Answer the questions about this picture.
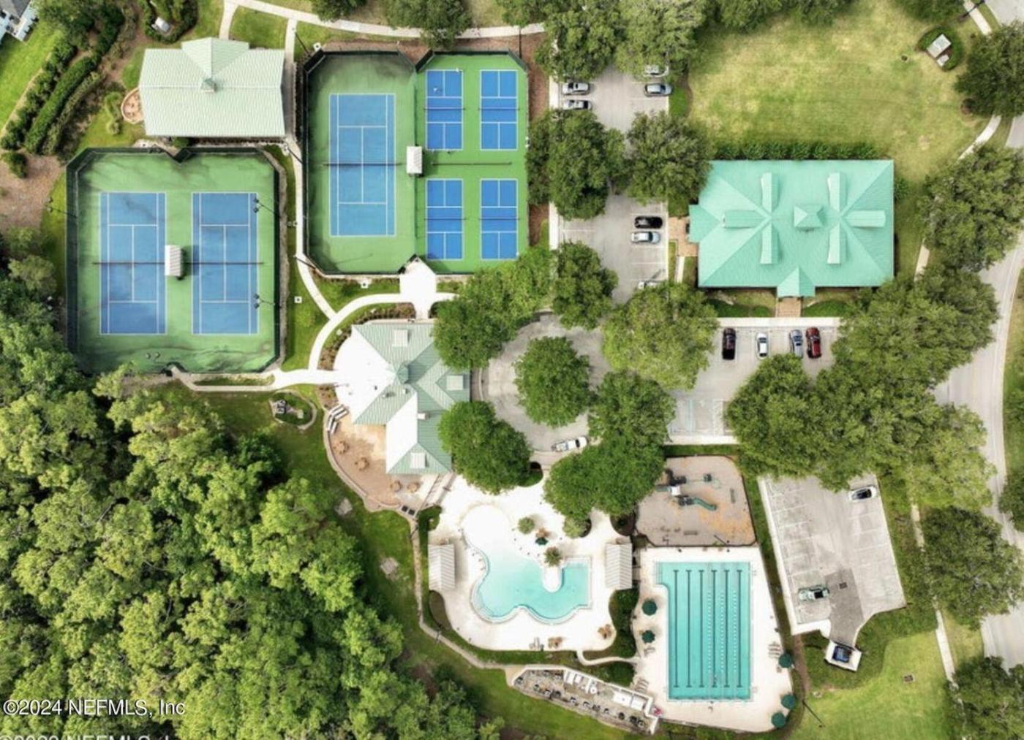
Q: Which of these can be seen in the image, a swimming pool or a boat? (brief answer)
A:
swimming pool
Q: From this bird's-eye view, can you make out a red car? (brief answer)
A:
Yes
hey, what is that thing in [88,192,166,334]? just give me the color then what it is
blue tennis court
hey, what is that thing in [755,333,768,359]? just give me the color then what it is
white vehicle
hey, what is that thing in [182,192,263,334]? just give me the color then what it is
blue tennis court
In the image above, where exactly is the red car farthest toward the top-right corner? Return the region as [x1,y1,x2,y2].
[804,328,821,358]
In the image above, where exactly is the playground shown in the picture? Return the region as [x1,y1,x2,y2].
[659,470,723,512]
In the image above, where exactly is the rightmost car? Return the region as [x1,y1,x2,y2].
[847,485,878,501]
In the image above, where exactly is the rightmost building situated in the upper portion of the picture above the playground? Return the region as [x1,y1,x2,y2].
[684,159,894,298]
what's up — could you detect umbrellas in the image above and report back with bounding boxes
[535,535,548,547]
[779,693,795,708]
[769,711,785,726]
[651,703,662,715]
[641,628,655,643]
[777,651,792,667]
[641,598,657,614]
